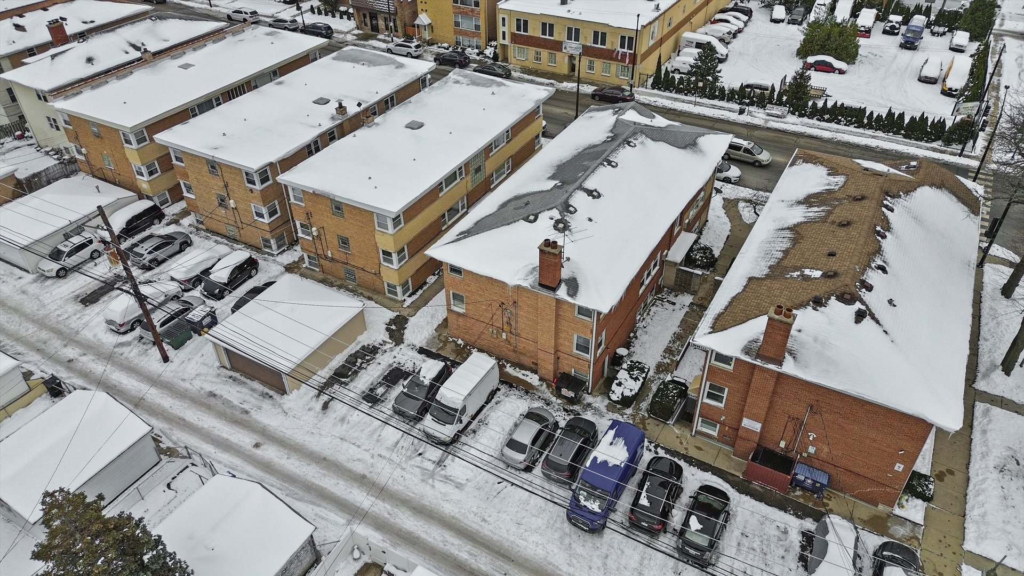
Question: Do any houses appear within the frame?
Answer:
Yes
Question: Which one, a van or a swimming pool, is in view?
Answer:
van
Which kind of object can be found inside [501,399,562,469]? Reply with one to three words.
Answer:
car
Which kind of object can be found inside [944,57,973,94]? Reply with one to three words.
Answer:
van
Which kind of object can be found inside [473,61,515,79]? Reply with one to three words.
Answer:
car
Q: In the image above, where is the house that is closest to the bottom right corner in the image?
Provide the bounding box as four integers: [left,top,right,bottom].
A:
[690,147,981,508]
